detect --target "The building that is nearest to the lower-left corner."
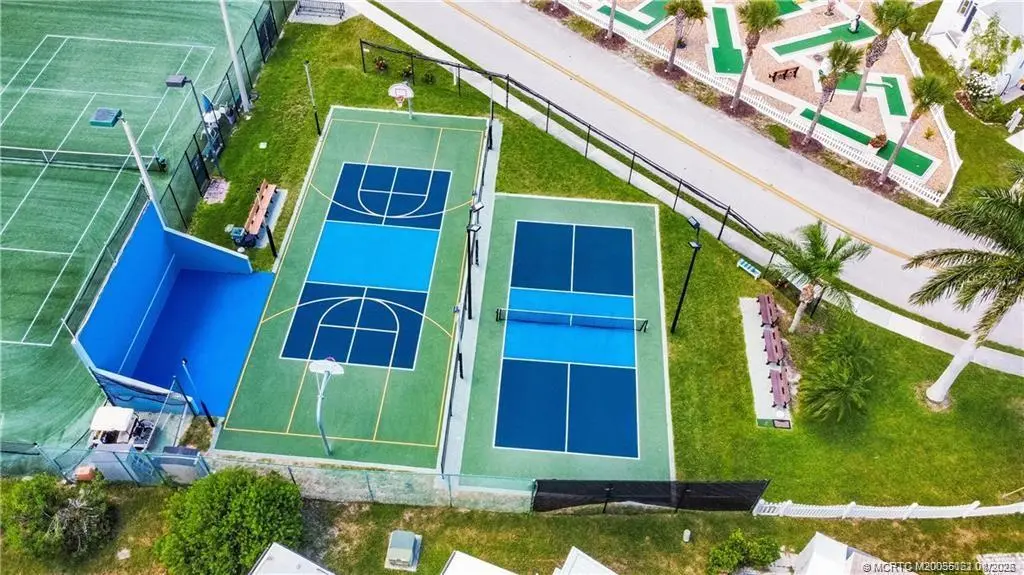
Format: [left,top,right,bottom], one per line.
[253,539,341,575]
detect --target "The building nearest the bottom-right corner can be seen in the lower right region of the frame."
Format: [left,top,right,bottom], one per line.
[795,532,866,575]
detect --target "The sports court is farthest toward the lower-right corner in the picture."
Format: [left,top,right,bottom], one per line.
[459,192,676,482]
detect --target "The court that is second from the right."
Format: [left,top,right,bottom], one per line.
[205,106,487,470]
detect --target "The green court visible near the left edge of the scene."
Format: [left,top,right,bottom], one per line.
[0,0,290,486]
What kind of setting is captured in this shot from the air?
sports ground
